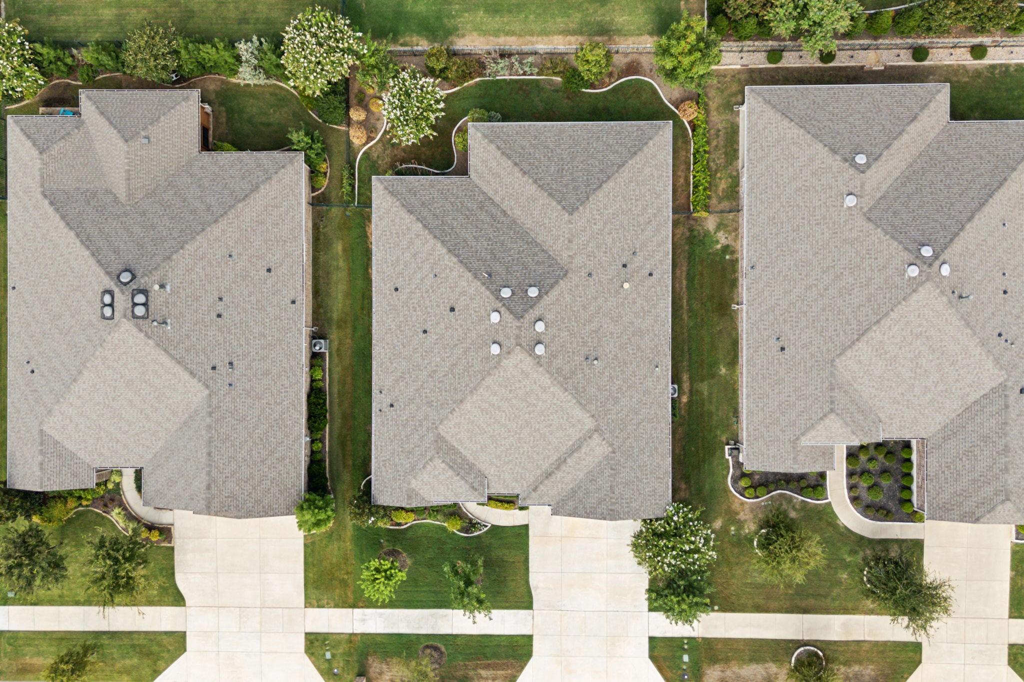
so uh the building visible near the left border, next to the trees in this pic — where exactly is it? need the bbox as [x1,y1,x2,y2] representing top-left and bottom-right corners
[7,90,317,519]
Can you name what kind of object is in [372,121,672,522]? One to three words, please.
house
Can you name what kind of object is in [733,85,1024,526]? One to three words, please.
house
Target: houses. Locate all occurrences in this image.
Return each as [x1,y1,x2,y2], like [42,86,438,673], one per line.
[733,85,1024,526]
[372,121,672,522]
[7,90,317,519]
